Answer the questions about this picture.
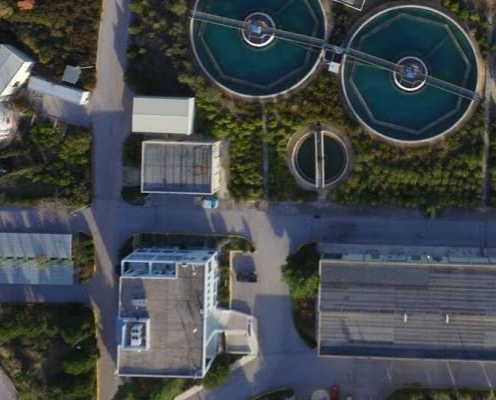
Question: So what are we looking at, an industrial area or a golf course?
industrial area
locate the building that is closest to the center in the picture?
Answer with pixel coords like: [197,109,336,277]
[140,139,220,195]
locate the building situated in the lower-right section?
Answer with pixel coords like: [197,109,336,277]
[317,247,496,364]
